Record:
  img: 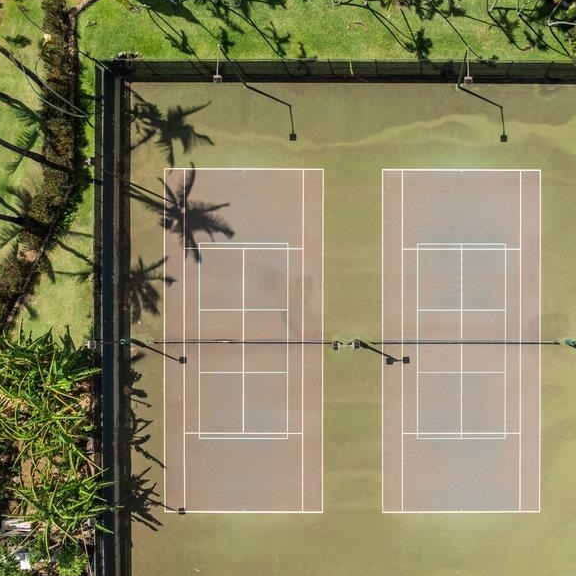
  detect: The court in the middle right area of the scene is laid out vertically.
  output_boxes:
[382,169,541,513]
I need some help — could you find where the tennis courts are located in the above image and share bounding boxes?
[163,169,323,514]
[382,169,541,513]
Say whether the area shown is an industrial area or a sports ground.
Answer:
sports ground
